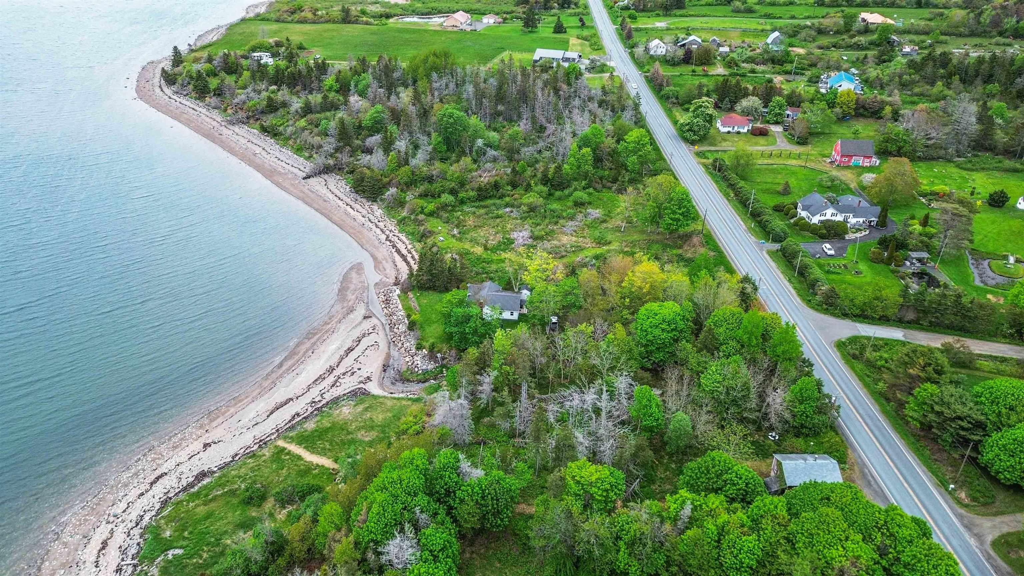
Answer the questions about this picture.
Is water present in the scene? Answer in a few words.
Yes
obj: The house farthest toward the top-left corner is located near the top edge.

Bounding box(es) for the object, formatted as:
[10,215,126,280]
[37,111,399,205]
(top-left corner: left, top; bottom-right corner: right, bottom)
[441,10,473,27]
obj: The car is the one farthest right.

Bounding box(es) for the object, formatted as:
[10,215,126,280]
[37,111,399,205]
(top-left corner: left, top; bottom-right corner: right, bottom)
[820,242,837,255]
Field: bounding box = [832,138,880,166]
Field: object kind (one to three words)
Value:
barn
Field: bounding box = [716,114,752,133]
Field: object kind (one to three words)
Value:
house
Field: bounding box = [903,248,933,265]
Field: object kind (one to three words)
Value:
building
